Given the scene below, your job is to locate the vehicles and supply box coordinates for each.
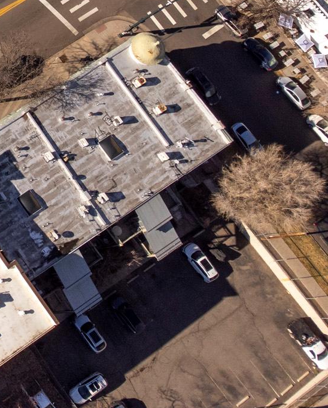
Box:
[273,75,314,112]
[212,5,251,42]
[303,115,328,153]
[241,37,281,74]
[182,66,225,109]
[73,312,111,358]
[182,242,223,286]
[284,315,328,367]
[67,370,111,407]
[107,291,152,341]
[226,118,267,157]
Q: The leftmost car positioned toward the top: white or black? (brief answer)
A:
black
